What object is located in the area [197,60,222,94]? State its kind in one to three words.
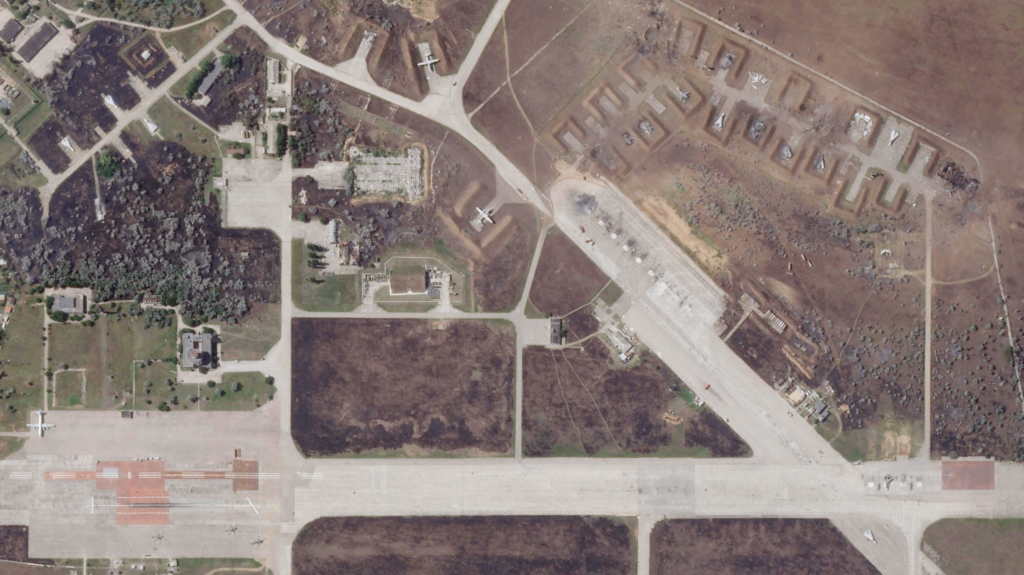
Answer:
building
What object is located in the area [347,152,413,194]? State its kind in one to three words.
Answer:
building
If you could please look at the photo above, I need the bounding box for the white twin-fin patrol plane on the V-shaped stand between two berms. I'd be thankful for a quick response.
[475,206,494,225]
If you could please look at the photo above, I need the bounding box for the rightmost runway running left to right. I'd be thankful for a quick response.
[284,465,994,575]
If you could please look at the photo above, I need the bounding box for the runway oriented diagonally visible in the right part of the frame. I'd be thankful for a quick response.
[621,299,849,466]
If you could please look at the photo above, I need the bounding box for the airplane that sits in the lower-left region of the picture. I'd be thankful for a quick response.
[25,413,54,438]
